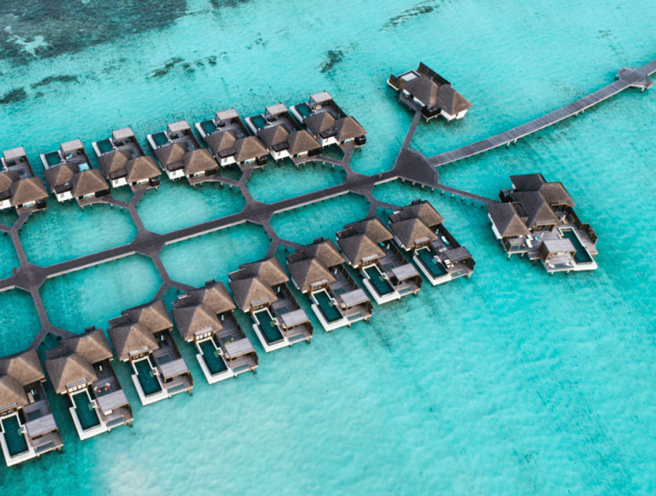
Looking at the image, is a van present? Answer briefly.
No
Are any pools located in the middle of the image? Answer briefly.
Yes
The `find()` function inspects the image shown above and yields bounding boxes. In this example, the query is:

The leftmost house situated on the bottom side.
[0,348,65,457]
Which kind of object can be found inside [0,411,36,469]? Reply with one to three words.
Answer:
swimming pool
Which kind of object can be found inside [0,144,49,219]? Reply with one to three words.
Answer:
house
